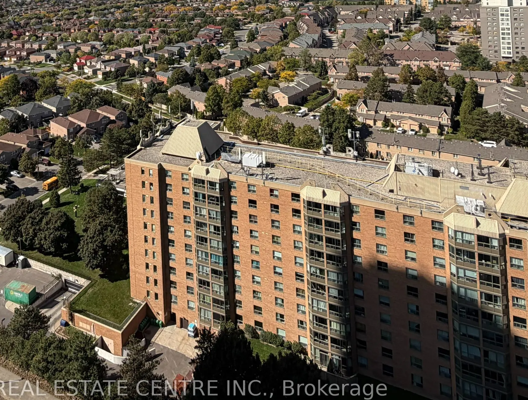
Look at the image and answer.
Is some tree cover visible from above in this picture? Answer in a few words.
Yes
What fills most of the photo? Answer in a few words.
buildings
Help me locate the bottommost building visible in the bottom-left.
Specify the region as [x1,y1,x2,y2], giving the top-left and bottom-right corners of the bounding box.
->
[62,276,143,364]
